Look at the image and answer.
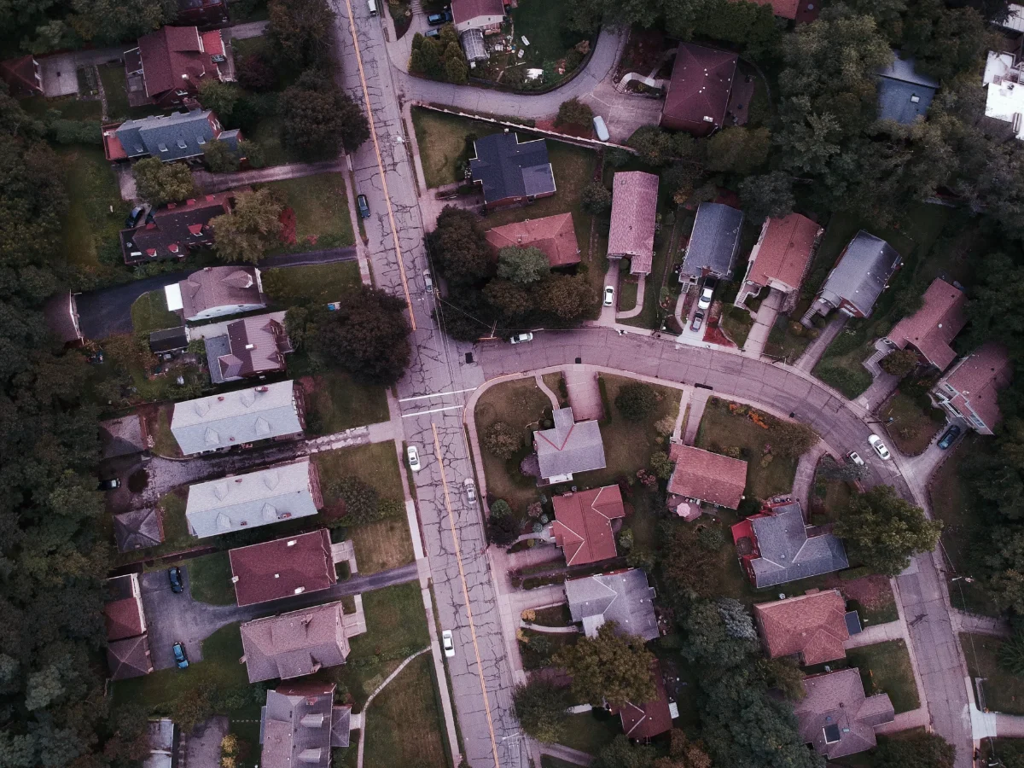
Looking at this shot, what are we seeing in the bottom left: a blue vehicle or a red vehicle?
blue vehicle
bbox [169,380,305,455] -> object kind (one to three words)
house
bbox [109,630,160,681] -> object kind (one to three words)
building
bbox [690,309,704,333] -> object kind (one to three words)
car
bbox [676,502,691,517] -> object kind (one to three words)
umbrella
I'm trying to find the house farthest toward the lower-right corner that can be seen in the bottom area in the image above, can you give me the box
[797,663,896,759]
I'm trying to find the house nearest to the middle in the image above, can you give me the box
[532,407,606,487]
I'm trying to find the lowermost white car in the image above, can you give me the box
[442,628,455,656]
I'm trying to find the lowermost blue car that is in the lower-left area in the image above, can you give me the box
[172,640,189,670]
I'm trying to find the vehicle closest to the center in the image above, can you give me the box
[509,332,534,344]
